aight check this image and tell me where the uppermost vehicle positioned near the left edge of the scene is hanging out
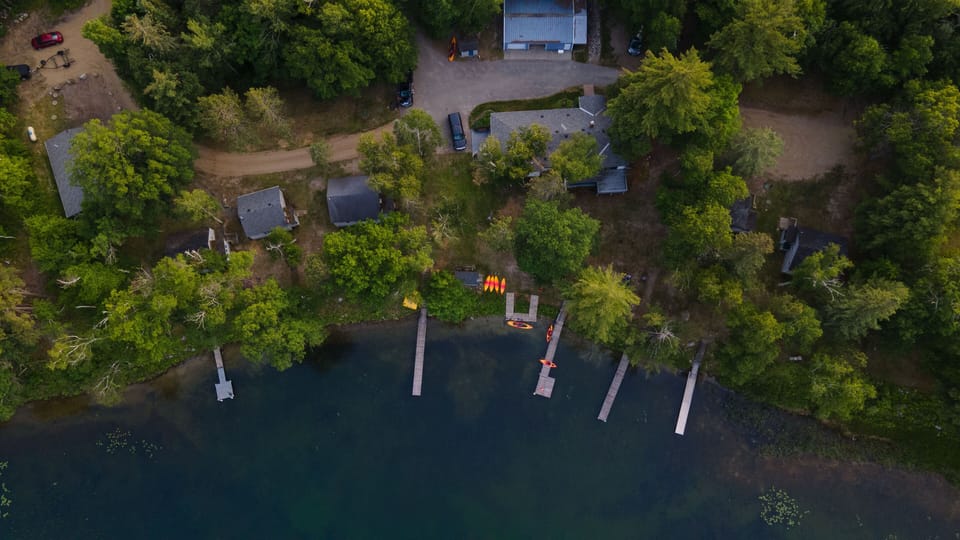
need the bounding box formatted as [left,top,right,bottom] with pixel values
[26,28,63,49]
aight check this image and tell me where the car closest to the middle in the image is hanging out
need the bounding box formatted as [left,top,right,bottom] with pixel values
[447,109,467,150]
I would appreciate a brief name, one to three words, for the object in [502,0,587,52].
building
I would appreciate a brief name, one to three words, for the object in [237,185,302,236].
house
